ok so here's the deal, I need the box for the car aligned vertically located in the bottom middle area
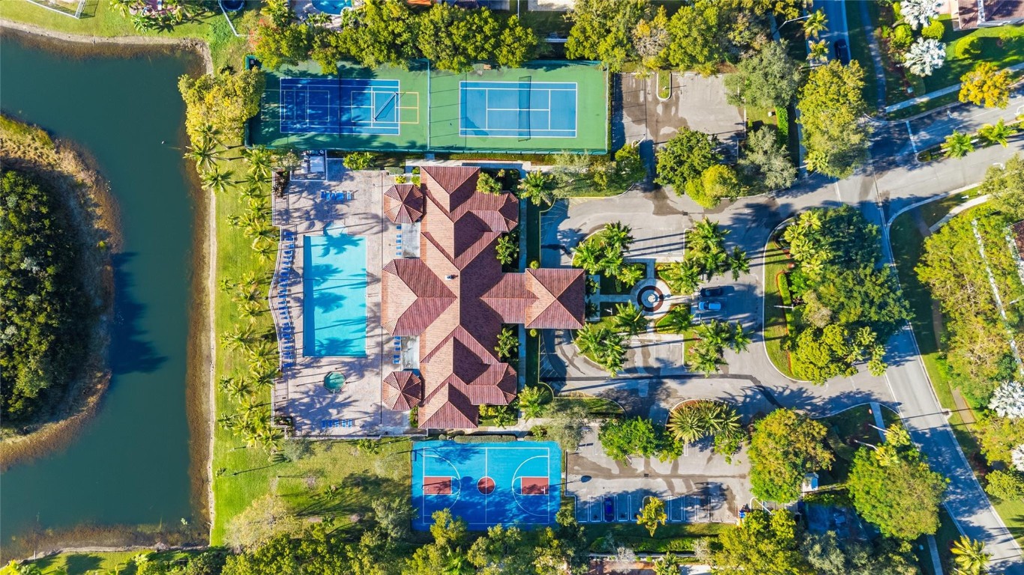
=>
[604,498,616,523]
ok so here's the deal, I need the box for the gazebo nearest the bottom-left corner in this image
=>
[383,371,419,411]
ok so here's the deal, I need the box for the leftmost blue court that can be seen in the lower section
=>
[412,441,561,531]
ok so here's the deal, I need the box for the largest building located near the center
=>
[381,166,585,428]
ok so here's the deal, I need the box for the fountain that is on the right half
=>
[637,284,664,311]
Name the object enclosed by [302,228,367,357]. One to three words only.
swimming pool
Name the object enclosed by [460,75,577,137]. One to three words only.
tennis court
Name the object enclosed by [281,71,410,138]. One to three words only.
tennis court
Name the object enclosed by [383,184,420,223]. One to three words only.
gazebo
